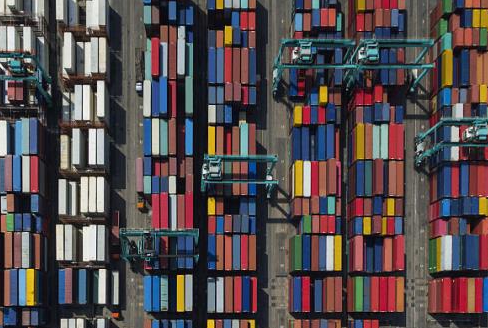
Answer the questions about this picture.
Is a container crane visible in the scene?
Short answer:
Yes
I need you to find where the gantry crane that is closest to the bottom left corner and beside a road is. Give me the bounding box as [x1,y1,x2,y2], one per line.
[119,230,204,267]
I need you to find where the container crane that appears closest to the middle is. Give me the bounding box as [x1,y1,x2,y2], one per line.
[201,153,280,200]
